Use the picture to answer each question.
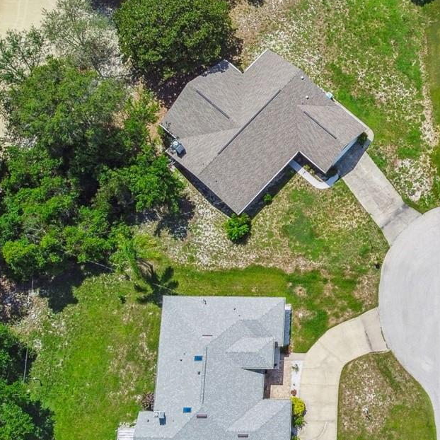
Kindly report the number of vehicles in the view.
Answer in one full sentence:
The photo contains no vehicles.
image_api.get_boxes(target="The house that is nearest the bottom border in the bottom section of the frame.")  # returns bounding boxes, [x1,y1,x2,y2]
[135,296,292,440]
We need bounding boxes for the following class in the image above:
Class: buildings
[135,296,292,440]
[159,50,369,216]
